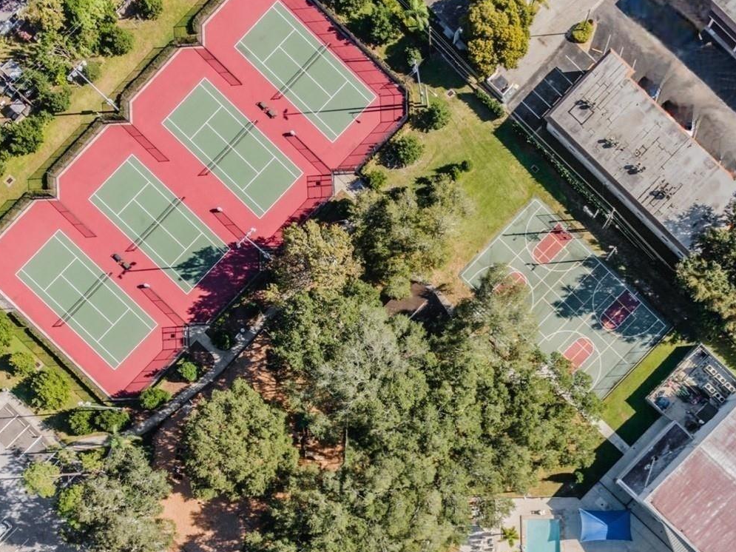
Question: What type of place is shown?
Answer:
sports ground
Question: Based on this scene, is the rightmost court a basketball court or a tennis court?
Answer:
basketball court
